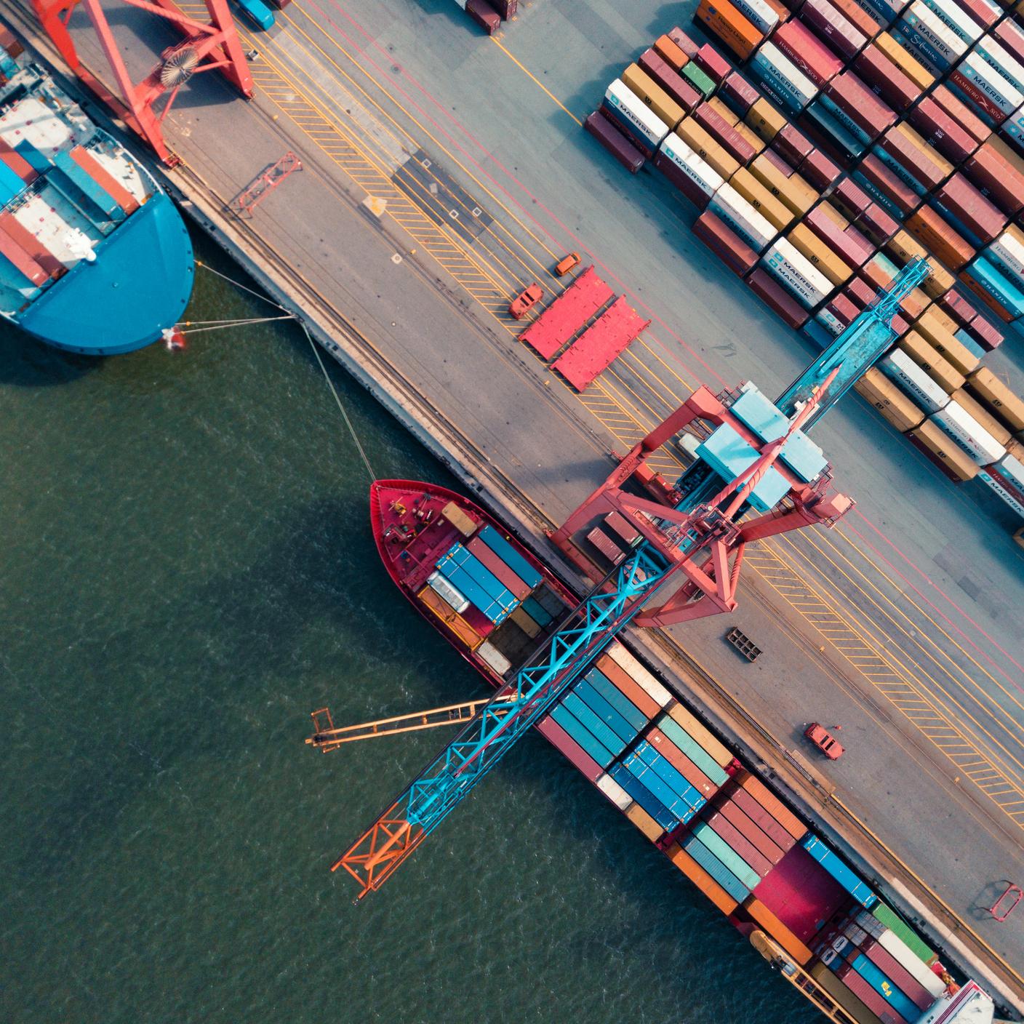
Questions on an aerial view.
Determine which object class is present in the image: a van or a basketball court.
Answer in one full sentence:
Looking from above, you can make out a van.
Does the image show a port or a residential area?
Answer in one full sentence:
What you see here is a port.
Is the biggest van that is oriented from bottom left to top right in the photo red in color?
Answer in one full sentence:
Yes, the biggest van that is oriented from bottom left to top right is red.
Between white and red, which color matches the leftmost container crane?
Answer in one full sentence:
In this view, the leftmost container crane is red.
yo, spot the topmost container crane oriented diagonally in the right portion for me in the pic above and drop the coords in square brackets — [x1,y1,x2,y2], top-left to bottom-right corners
[323,242,945,911]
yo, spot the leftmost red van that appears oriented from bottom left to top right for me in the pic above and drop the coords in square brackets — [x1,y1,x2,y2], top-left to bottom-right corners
[509,285,543,320]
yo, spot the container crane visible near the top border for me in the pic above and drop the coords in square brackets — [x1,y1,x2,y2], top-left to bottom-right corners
[33,0,265,178]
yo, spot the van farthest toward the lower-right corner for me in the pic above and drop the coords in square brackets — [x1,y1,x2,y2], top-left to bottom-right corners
[802,723,840,759]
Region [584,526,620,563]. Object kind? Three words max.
shipping container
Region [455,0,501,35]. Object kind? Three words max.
shipping container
